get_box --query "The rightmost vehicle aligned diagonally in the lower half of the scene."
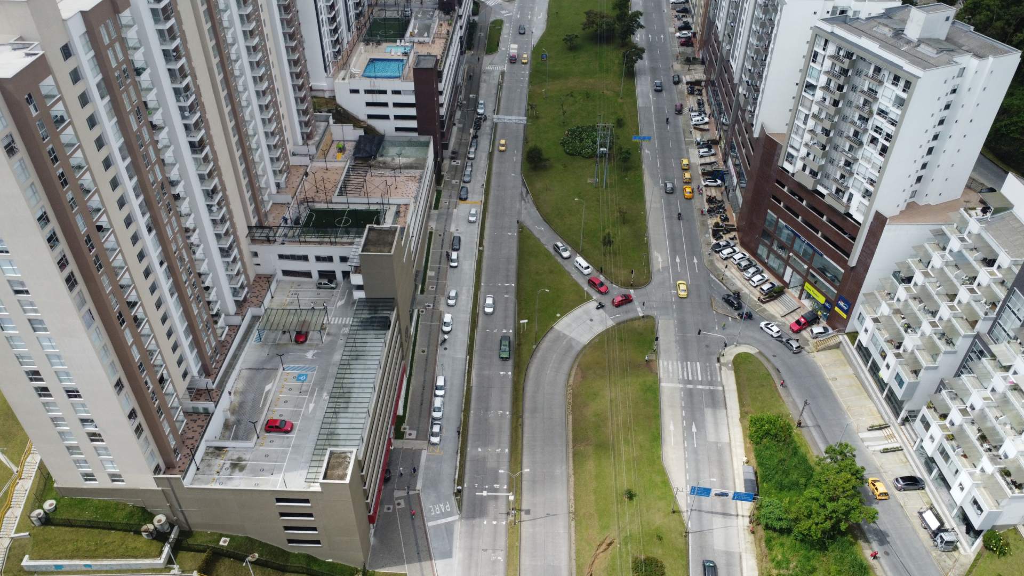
[913,505,961,552]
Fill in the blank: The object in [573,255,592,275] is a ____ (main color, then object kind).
white vehicle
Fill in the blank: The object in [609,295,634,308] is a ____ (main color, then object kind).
red vehicle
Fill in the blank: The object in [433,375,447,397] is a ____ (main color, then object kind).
white car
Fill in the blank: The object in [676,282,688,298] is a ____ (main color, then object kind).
yellow vehicle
